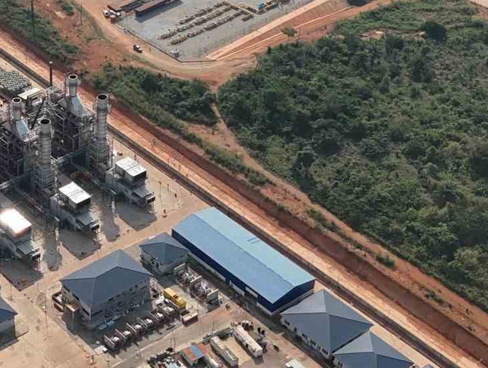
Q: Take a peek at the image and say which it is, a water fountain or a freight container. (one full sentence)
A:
Looking from above, you can make out a freight container.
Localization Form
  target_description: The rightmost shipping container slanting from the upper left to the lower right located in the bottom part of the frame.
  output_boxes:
[160,284,190,313]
